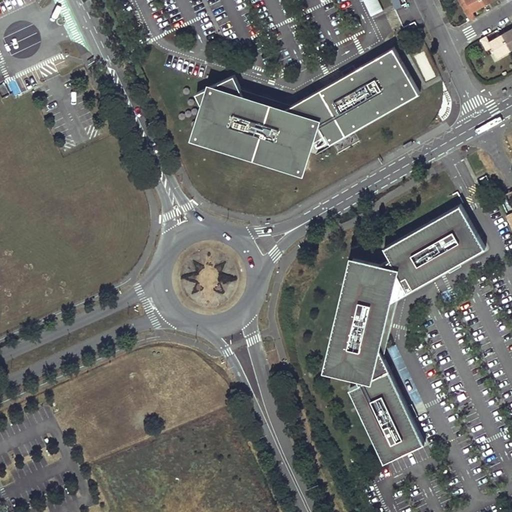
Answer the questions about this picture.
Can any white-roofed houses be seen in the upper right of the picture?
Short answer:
Yes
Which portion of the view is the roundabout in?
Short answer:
center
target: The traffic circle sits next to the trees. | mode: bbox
[152,220,267,334]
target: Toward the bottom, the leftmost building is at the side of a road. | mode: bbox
[322,190,486,466]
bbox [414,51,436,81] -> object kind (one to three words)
shed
